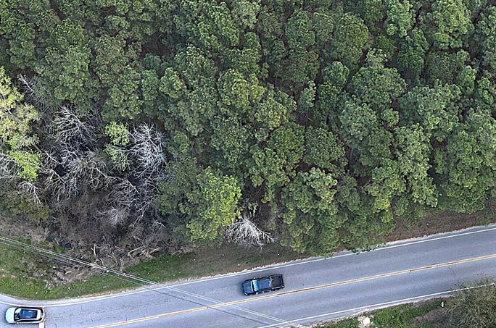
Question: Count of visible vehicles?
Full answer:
The photo contains 2 vehicles.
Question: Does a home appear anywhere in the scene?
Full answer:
No, no home is visible in the view.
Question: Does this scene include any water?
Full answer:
No, the scene doesn't show any water.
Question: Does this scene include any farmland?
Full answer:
No, there is no farmland in the image.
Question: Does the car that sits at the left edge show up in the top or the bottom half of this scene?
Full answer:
Seen from above, the car that sits at the left edge lies in the bottom half of the view.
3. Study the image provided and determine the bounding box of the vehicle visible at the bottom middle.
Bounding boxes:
[242,273,284,296]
